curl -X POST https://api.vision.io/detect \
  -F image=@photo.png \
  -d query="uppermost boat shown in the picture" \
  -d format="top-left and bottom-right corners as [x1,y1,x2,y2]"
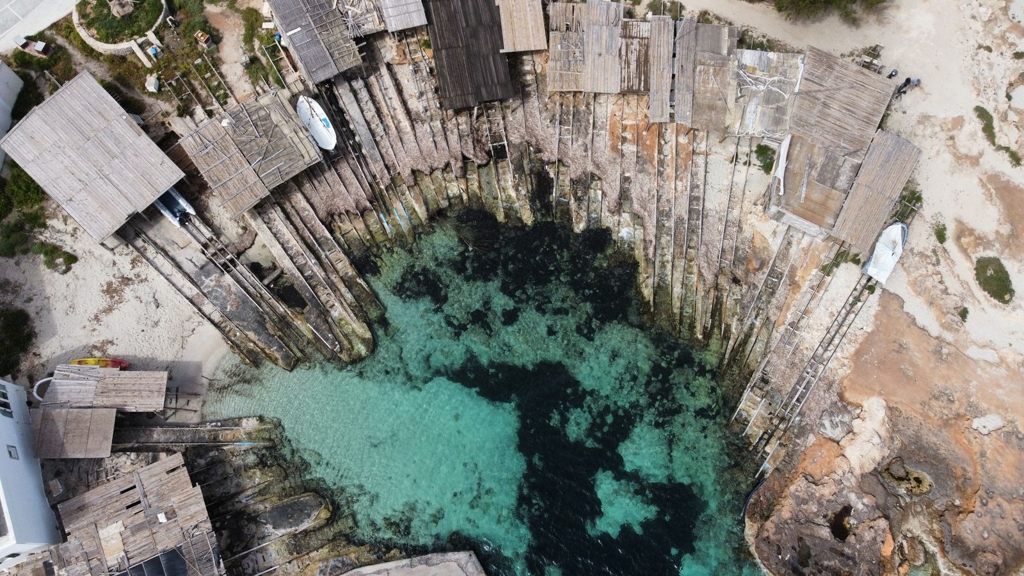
[296,94,341,155]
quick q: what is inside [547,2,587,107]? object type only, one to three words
shed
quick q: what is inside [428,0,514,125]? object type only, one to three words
shed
